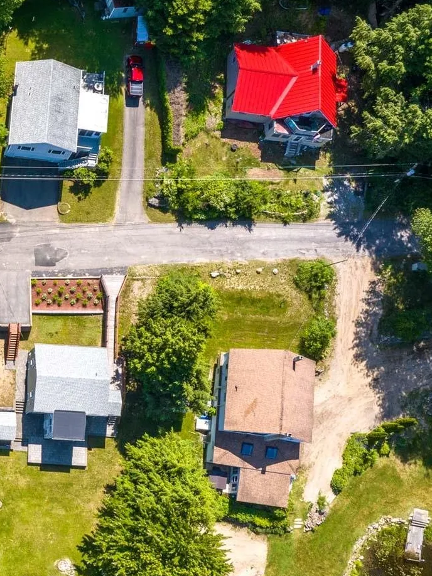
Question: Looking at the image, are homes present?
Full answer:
Yes, this view includes a home.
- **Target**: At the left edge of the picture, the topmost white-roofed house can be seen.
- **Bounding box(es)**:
[7,58,108,179]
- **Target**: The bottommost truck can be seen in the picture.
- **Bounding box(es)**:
[126,54,147,99]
